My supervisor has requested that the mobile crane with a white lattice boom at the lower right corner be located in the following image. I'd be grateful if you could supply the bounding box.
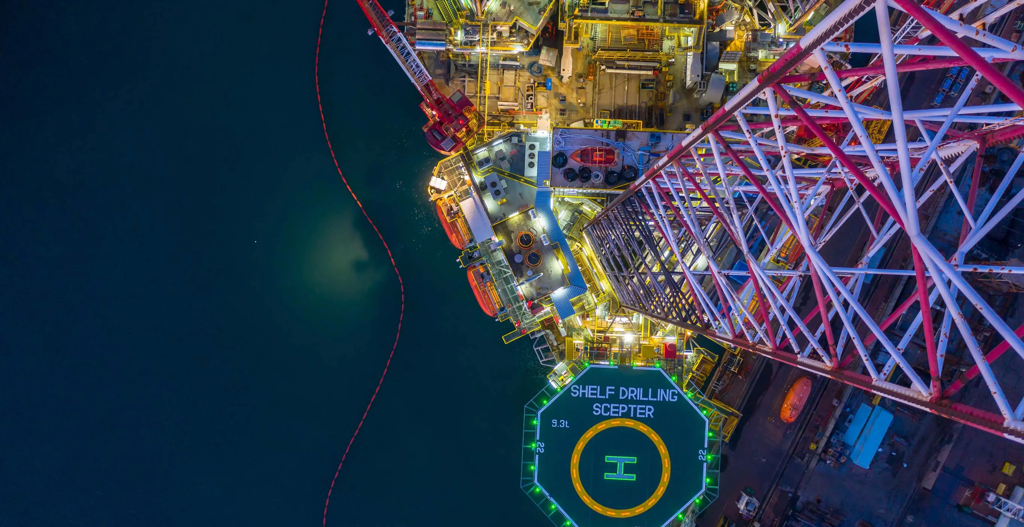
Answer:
[951,483,1024,525]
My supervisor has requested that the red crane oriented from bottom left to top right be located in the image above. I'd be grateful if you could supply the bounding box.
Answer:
[778,0,946,173]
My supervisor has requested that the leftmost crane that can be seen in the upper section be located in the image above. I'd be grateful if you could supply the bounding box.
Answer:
[363,0,486,159]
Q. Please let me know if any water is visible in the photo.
Yes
